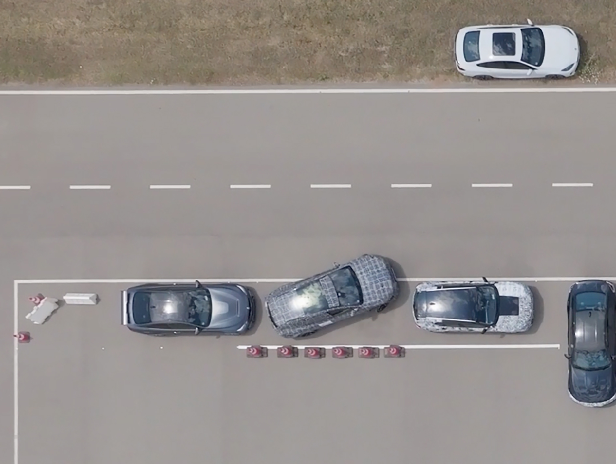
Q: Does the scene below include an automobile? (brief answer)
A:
Yes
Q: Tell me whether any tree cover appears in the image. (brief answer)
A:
No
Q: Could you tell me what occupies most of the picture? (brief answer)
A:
paved ground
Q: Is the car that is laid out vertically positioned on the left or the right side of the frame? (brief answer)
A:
right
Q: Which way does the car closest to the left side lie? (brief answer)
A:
from side to side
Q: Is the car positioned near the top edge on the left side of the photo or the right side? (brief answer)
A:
right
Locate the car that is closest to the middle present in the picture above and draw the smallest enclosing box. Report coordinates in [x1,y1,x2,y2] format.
[264,254,401,339]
